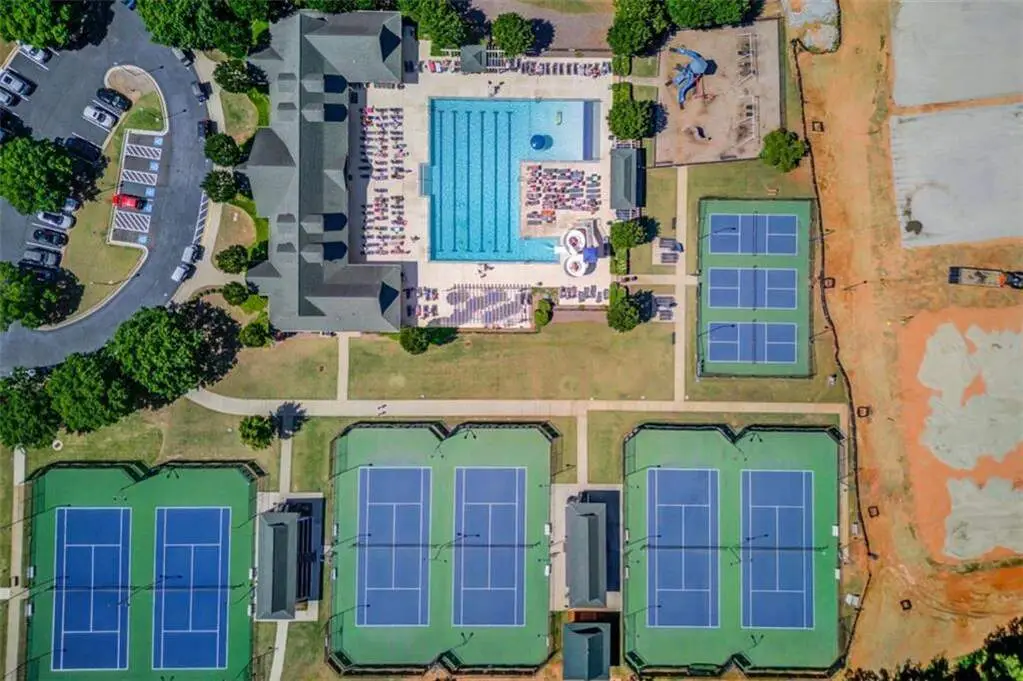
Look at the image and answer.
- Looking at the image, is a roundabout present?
No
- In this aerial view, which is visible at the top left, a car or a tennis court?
car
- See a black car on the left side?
Yes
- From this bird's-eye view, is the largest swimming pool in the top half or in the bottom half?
top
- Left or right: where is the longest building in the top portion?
left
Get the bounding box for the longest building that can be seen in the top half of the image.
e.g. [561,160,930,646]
[235,10,403,333]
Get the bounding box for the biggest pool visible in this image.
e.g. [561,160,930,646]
[418,96,602,264]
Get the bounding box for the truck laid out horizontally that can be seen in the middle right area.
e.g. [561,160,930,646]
[949,265,1023,290]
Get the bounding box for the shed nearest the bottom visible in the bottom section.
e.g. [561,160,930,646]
[564,616,610,681]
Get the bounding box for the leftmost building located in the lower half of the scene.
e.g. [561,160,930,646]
[258,510,317,618]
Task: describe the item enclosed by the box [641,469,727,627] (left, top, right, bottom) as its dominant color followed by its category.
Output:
blue tennis court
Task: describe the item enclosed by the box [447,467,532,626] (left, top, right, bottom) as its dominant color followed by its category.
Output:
blue tennis court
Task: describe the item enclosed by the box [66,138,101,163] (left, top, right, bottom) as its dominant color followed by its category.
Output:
black car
